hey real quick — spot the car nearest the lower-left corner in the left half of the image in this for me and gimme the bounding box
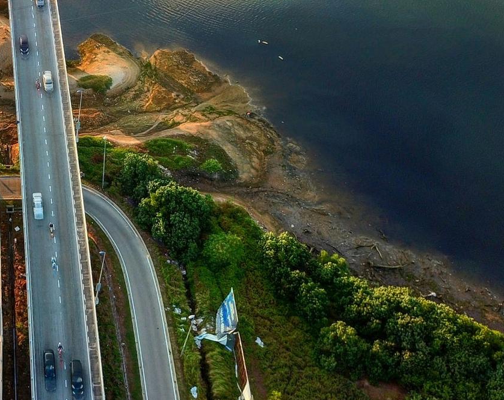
[42,352,59,384]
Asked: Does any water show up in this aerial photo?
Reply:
Yes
